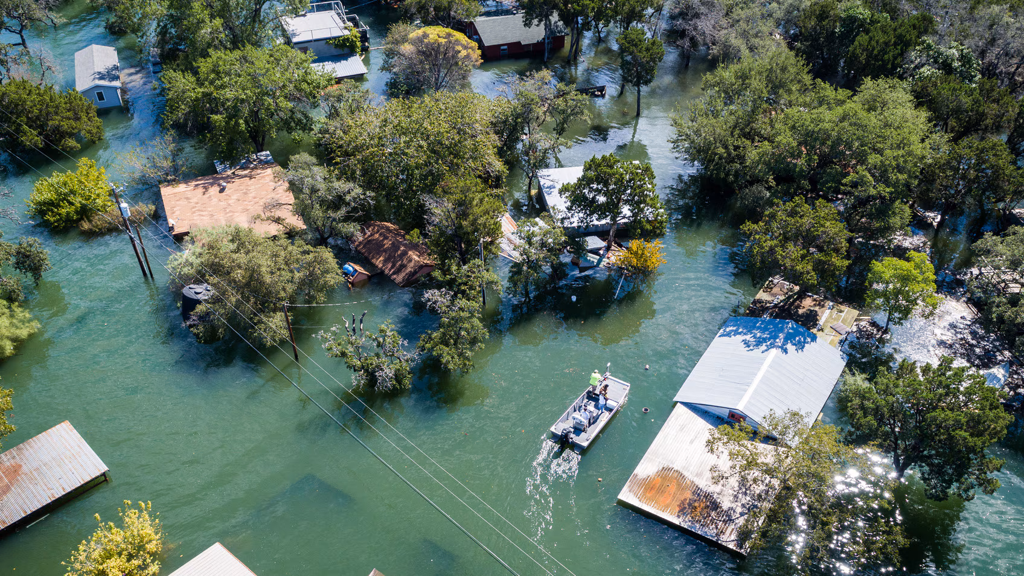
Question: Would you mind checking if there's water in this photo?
Yes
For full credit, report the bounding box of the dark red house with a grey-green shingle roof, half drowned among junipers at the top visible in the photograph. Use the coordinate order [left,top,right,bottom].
[469,9,568,62]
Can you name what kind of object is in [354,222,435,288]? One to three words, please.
house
